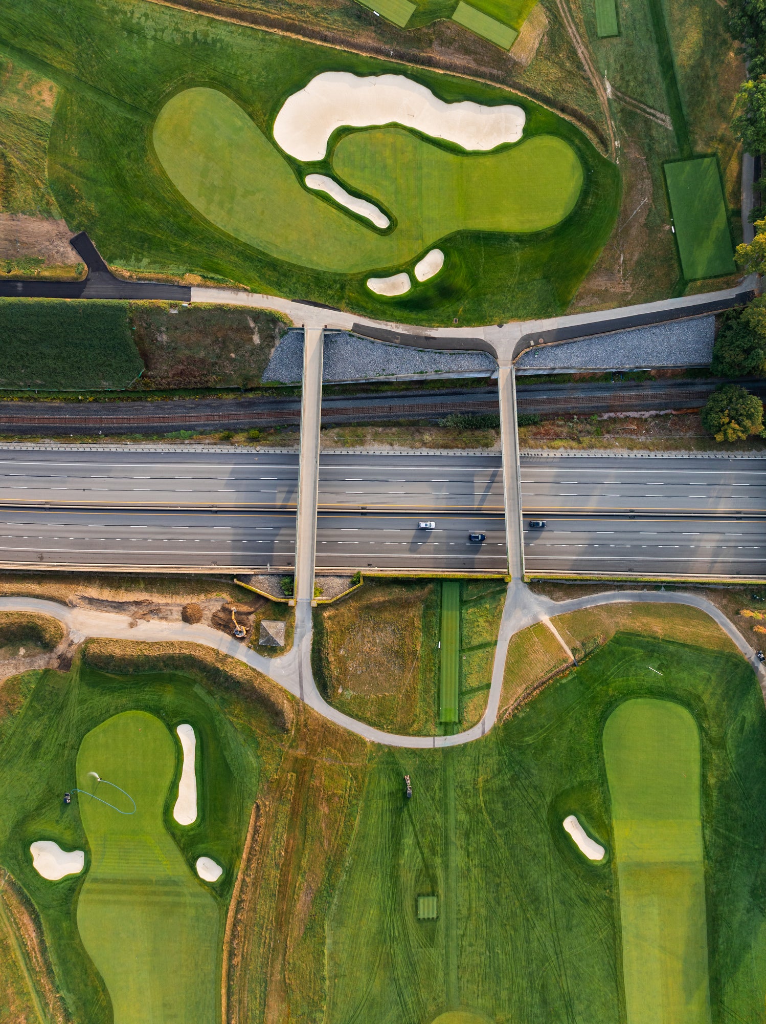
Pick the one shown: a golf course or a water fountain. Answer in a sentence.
There is a golf course in the scene.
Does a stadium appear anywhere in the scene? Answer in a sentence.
No, no stadium is visible in the view.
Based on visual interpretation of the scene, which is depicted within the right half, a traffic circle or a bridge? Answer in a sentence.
The feature located within the right half is a bridge.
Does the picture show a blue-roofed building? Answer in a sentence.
No, I find no blue-roofed building anywhere in the image.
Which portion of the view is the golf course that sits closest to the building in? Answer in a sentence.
Look in the bottom left portion of the view to spot the golf course that sits closest to the building.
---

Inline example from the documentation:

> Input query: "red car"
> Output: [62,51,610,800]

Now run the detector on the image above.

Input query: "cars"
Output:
[419,521,436,529]
[469,534,486,541]
[530,520,547,528]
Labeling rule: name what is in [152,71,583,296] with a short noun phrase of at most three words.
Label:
golf course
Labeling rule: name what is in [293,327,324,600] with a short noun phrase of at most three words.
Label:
bridge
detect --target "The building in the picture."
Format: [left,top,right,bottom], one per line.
[258,621,284,648]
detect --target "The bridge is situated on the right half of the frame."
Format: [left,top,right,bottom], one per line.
[492,365,526,580]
